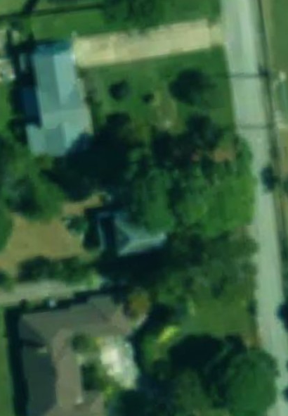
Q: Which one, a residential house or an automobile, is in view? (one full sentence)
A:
Of the two, only a residential house appears.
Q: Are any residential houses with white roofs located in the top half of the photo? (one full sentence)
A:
No, no residential house with a white roof appears in the top half of the photo.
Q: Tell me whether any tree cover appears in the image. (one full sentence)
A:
Yes, some tree cover is visible.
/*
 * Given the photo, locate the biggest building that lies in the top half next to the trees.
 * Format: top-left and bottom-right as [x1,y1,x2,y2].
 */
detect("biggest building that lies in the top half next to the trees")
[20,39,87,155]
